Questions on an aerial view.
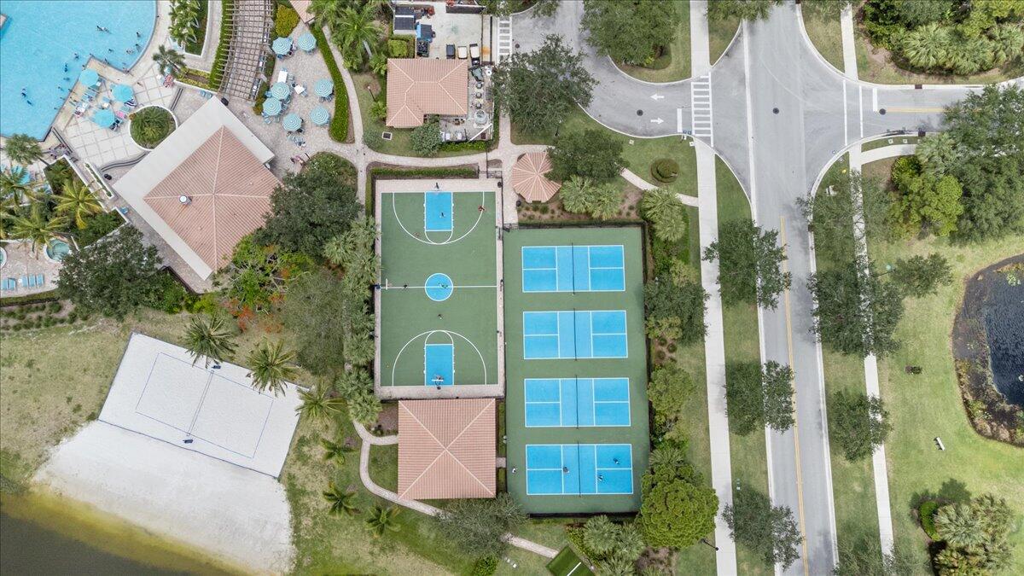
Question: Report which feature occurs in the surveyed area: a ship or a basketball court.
basketball court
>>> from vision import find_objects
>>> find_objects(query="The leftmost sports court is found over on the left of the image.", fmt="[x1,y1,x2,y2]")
[97,332,307,477]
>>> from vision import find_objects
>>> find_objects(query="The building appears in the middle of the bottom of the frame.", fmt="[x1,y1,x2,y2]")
[397,398,497,500]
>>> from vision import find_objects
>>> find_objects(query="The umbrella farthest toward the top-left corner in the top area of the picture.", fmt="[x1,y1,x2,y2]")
[80,69,102,88]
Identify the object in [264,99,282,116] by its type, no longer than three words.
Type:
umbrella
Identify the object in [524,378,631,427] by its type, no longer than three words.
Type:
sports court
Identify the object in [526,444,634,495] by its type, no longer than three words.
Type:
sports court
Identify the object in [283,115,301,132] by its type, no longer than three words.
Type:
umbrella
